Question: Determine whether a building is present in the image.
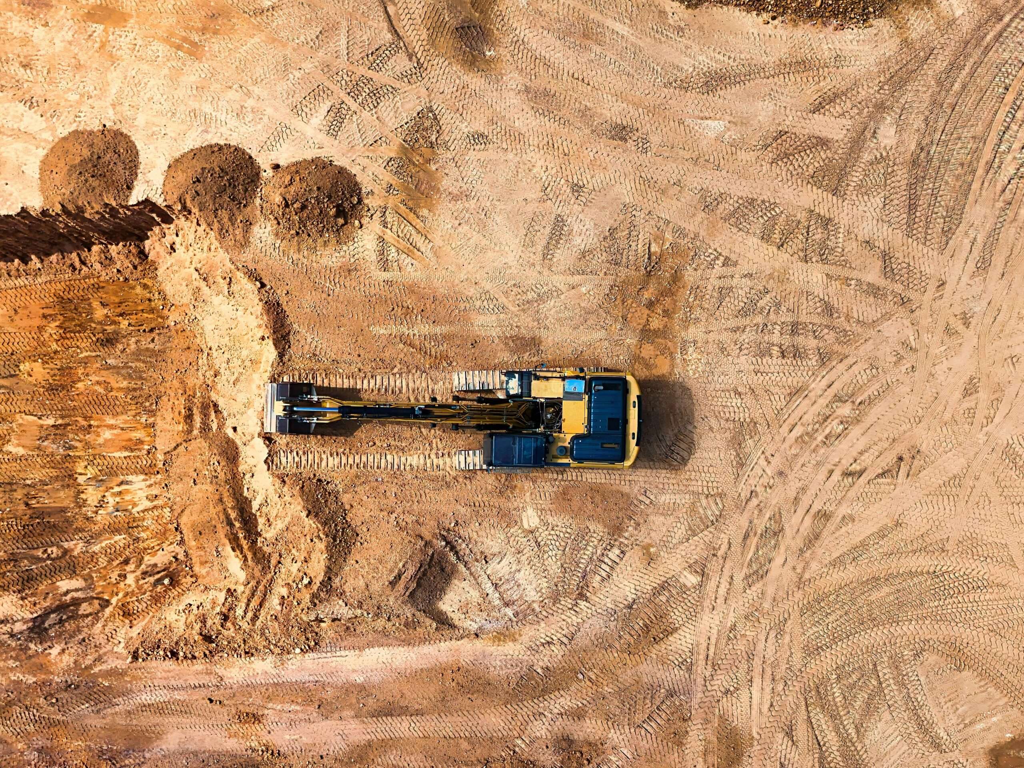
No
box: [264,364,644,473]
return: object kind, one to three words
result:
work vehicle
